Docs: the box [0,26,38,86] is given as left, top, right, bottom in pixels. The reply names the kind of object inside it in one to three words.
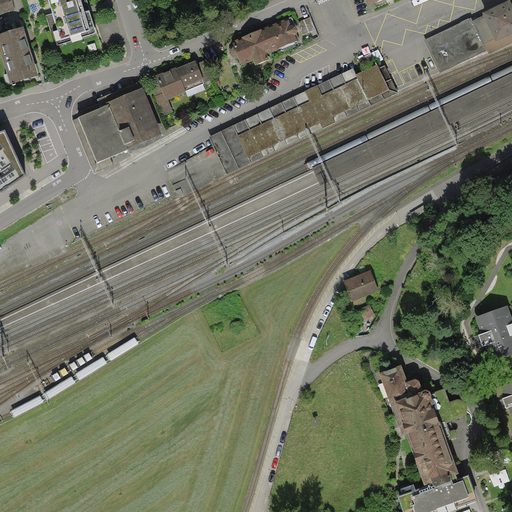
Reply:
house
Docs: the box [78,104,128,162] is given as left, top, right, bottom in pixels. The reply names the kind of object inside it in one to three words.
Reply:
building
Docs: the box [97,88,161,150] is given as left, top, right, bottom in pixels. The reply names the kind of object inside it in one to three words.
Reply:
building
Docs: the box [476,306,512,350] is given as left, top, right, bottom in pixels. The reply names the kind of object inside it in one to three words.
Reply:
house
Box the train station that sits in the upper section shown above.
[0,74,512,326]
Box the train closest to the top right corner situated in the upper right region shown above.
[307,64,512,168]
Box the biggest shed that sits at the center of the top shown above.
[210,64,396,174]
